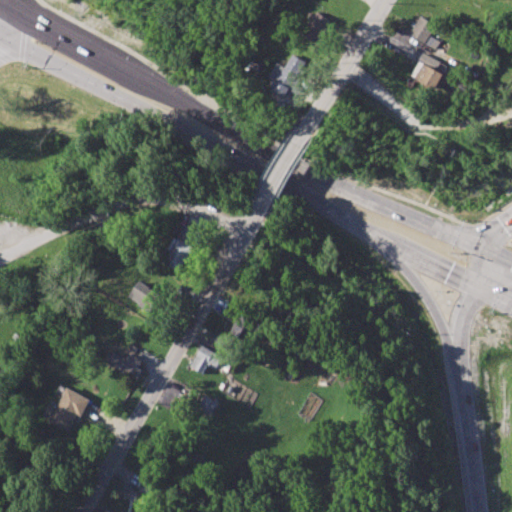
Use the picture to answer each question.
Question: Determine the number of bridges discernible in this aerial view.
1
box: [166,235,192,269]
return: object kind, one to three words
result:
house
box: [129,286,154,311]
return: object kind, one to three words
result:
house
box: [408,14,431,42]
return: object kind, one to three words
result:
barn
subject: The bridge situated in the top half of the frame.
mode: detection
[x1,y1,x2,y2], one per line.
[250,118,316,210]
